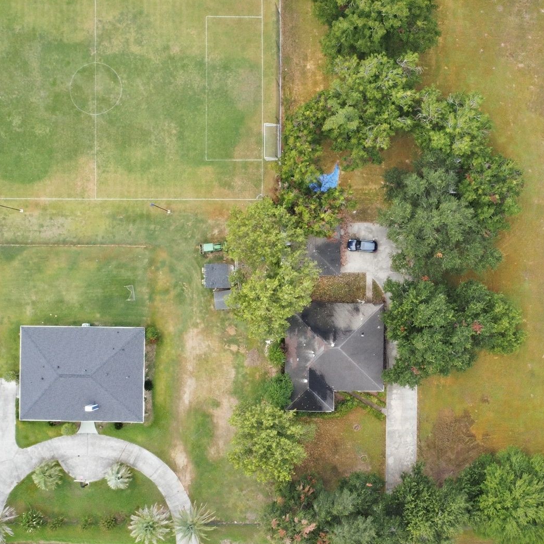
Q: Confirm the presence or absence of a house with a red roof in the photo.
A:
No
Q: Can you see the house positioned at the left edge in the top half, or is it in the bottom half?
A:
bottom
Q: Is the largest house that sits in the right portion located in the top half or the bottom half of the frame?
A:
bottom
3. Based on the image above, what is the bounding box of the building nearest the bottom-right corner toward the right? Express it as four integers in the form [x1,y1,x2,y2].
[285,303,384,411]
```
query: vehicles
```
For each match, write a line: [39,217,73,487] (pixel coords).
[203,243,230,254]
[348,239,378,252]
